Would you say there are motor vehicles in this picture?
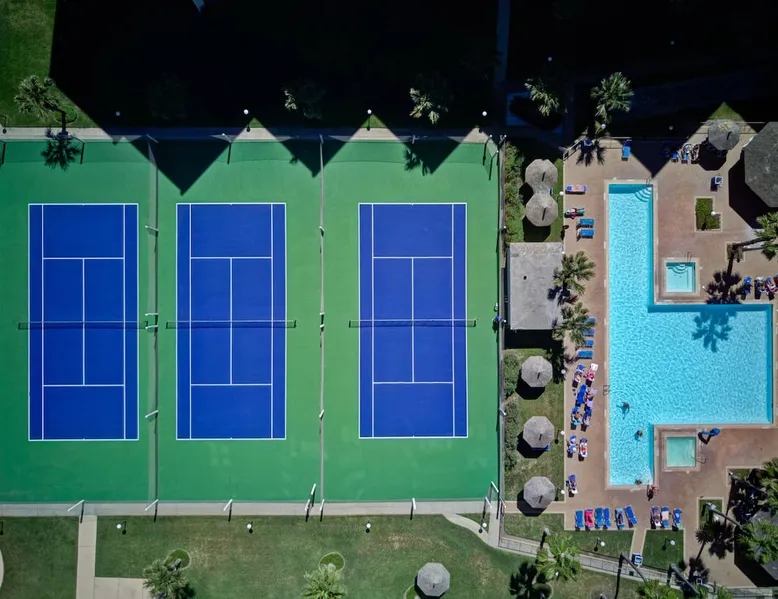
No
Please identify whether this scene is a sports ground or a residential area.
sports ground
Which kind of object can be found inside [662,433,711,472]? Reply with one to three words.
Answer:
swimming pool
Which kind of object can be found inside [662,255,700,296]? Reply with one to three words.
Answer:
swimming pool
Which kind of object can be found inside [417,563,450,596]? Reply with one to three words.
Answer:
umbrella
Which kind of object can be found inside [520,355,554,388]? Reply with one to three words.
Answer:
umbrella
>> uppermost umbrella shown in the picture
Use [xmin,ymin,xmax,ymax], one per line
[706,117,740,151]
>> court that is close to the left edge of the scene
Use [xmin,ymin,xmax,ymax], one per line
[0,141,158,503]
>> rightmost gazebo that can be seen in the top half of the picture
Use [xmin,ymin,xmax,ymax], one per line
[735,124,778,207]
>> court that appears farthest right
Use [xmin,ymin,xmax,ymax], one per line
[322,141,500,502]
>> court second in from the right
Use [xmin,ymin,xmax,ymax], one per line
[158,141,322,502]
